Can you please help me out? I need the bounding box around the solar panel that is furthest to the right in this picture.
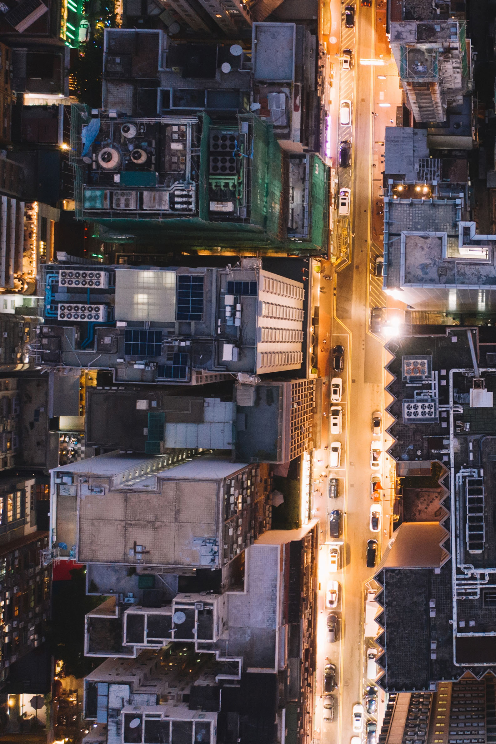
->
[227,281,256,294]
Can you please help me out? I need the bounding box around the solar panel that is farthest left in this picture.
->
[125,329,163,357]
